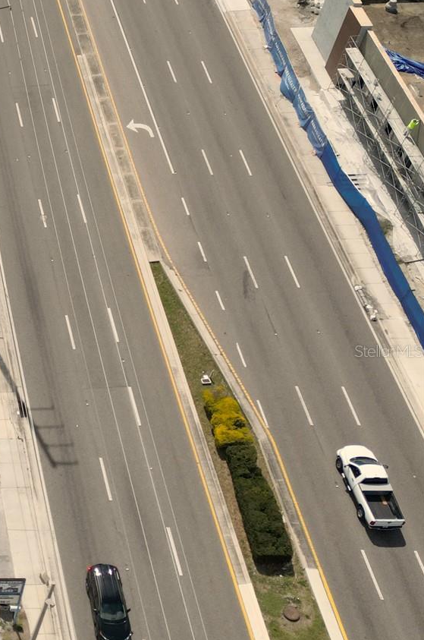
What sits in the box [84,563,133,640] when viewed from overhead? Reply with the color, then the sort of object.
black car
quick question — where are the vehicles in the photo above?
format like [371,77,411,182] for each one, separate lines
[84,563,133,640]
[340,447,407,533]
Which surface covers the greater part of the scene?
paved ground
